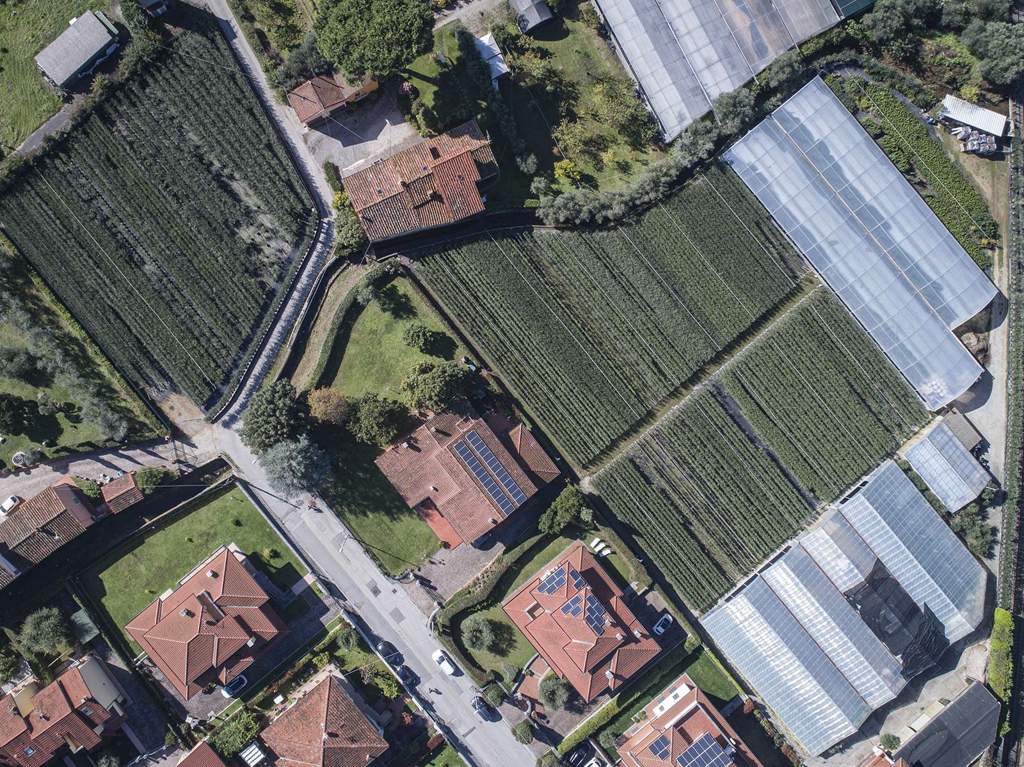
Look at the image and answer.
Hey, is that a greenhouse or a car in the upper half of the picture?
greenhouse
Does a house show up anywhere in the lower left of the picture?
Yes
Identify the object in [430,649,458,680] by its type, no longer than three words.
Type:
car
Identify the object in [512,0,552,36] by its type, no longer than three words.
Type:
shed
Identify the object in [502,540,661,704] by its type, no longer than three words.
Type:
house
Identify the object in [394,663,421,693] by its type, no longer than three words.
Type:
car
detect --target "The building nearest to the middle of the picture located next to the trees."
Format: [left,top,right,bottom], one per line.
[373,400,561,550]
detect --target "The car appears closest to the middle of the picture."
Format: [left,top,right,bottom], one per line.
[466,530,495,556]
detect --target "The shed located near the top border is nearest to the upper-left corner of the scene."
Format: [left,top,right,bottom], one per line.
[35,10,122,90]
